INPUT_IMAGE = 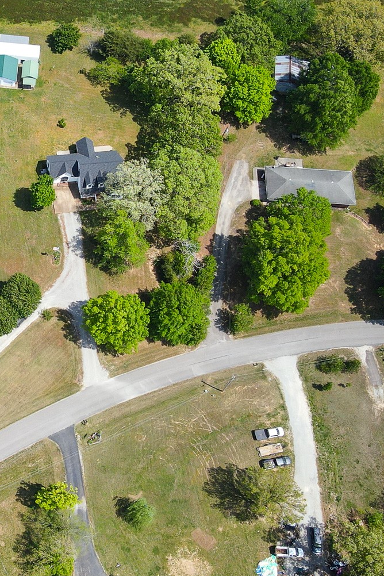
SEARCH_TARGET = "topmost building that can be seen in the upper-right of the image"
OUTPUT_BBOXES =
[268,51,309,102]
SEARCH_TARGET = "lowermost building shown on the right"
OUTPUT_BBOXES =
[262,166,356,215]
